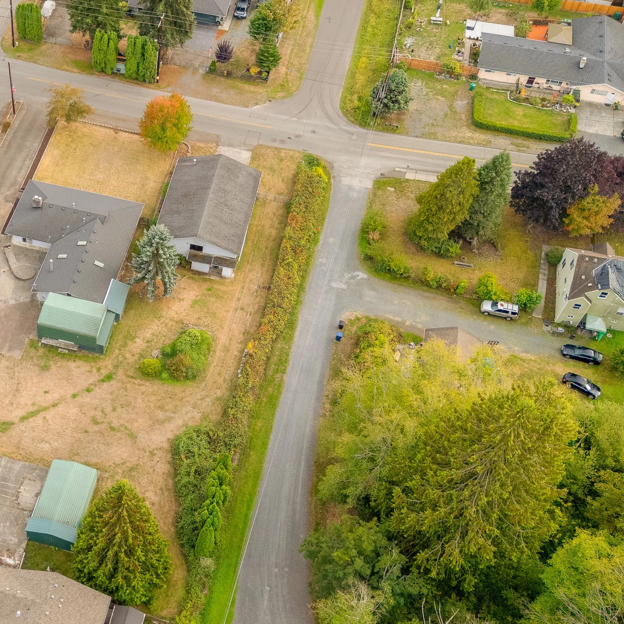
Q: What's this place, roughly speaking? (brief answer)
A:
residential area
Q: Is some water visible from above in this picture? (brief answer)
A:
No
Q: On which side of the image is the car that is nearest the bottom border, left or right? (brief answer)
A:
right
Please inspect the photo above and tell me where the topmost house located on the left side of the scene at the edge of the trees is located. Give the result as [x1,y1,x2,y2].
[180,0,230,28]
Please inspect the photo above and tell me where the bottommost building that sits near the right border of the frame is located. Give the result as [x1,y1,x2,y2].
[552,247,624,335]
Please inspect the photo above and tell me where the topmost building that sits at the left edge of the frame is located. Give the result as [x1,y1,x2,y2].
[3,178,145,307]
